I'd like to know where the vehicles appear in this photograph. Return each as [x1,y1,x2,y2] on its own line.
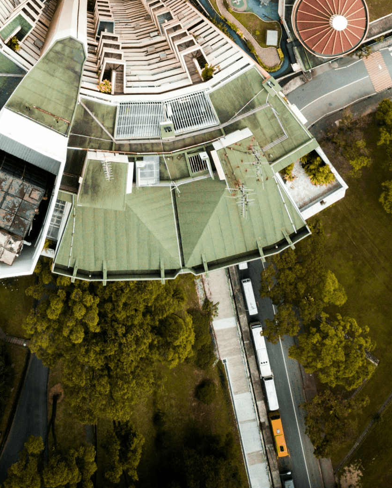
[239,274,259,315]
[261,375,280,412]
[280,470,295,488]
[267,410,290,457]
[248,319,273,377]
[237,262,250,274]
